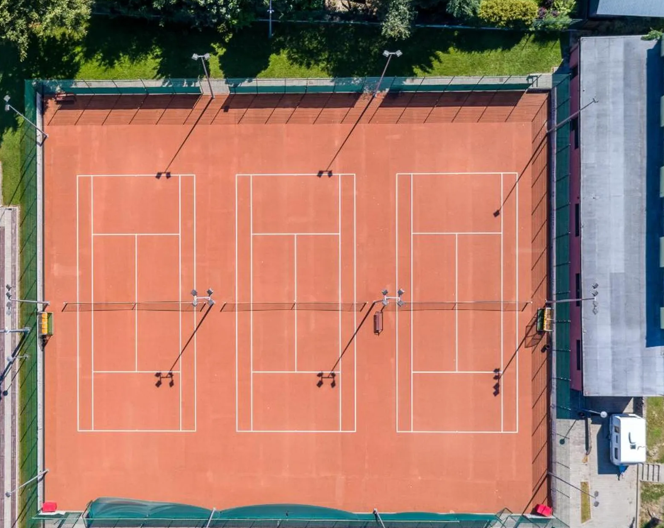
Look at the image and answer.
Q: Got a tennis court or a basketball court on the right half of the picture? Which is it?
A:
tennis court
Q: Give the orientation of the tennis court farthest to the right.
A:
from top to bottom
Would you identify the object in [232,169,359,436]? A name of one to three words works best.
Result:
tennis court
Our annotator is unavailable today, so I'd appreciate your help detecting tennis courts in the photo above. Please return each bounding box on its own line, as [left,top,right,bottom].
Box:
[232,169,359,436]
[73,171,199,436]
[392,168,522,437]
